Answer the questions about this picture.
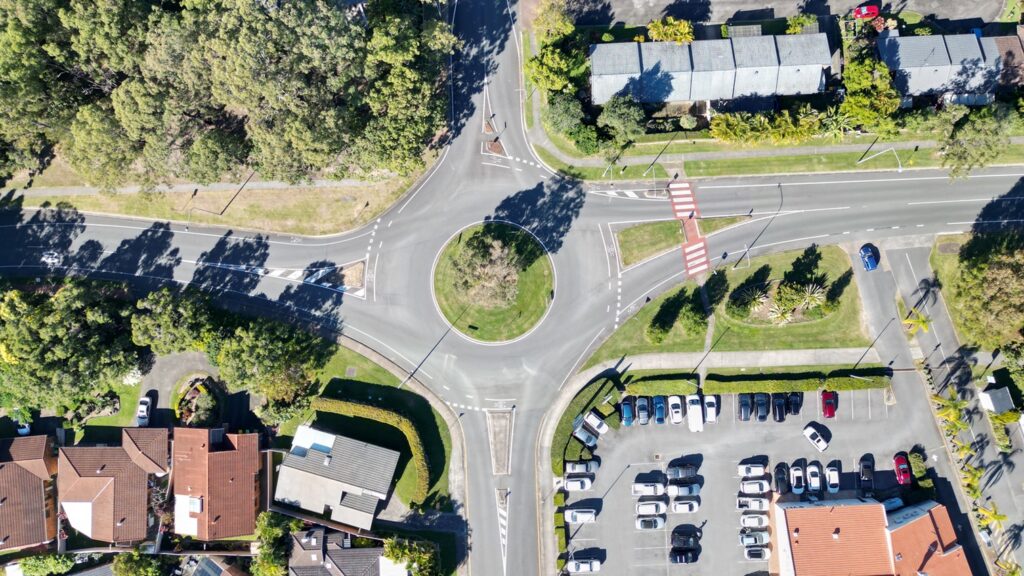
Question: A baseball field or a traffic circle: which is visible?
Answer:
traffic circle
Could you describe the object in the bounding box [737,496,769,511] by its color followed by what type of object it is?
white vehicle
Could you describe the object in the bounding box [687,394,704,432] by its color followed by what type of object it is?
white vehicle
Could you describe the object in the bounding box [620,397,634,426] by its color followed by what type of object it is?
blue car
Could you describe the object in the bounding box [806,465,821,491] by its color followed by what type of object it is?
white car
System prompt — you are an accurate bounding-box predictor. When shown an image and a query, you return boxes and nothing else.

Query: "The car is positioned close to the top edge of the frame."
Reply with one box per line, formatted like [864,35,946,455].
[851,4,878,20]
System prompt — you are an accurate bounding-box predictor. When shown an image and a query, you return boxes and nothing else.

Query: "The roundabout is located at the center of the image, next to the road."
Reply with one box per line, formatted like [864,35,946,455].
[432,221,555,345]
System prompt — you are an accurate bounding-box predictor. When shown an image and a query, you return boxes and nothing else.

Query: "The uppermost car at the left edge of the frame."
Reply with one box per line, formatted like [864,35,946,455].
[37,251,66,265]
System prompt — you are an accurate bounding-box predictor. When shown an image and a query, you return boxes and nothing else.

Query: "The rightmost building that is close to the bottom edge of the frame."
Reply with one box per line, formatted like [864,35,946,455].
[888,497,977,576]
